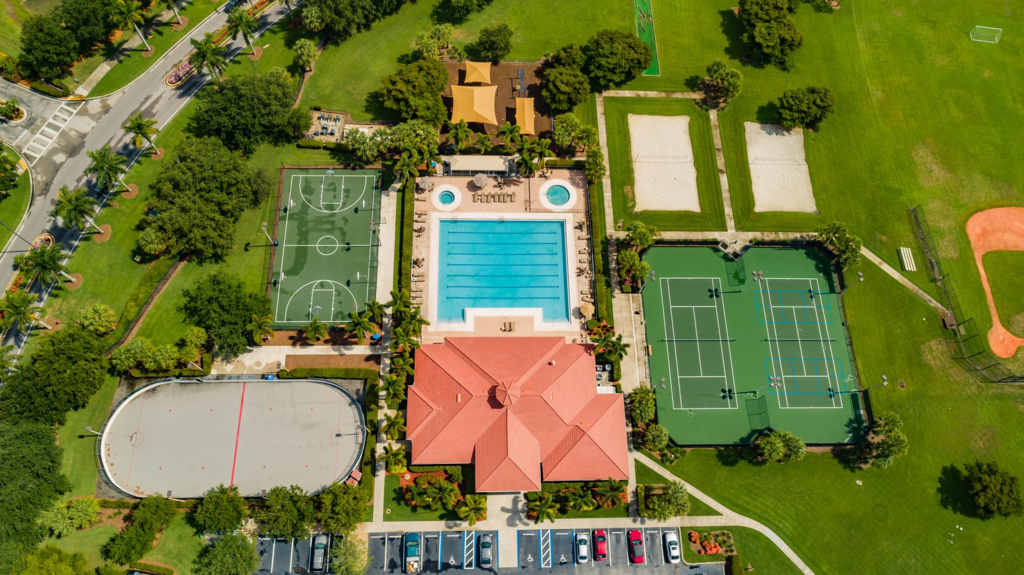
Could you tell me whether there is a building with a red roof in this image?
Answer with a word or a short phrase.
Yes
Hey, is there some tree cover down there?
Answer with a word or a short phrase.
Yes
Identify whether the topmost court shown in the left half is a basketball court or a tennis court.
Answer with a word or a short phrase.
basketball court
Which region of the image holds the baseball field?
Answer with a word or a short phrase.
right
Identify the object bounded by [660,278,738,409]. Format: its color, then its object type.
green tennis court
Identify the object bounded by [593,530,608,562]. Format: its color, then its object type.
red car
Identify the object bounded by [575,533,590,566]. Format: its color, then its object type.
white car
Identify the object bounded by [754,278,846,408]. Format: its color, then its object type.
green tennis court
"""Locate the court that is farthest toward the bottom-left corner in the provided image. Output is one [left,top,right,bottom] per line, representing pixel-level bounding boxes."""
[98,377,363,499]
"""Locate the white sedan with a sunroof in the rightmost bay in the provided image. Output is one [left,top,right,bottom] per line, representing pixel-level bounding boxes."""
[664,532,680,566]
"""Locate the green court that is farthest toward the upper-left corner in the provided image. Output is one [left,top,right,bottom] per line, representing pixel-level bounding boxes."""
[271,168,382,330]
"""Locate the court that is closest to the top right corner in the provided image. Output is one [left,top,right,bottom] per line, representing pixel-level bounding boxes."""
[745,121,817,214]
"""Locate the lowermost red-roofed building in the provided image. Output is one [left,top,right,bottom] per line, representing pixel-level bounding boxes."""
[406,336,630,492]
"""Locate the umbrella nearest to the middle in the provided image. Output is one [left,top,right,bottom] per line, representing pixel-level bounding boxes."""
[580,300,596,316]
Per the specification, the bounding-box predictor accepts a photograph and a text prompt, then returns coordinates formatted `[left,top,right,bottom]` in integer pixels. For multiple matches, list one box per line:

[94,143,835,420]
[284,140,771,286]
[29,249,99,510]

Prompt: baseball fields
[967,206,1024,358]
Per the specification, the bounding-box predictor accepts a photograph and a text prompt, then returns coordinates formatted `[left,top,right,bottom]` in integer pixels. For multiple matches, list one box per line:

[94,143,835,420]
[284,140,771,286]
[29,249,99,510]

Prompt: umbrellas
[580,300,596,316]
[473,171,489,185]
[416,172,432,186]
